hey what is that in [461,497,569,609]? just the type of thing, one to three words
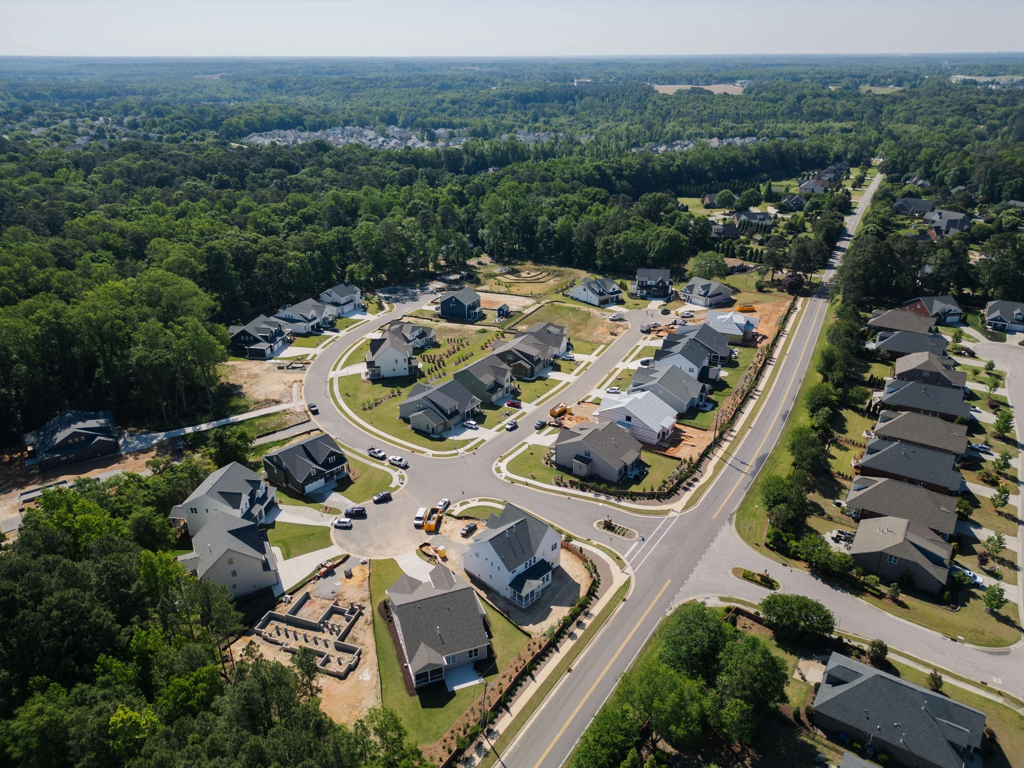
house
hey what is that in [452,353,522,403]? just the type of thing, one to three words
building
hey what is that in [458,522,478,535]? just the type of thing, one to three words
vehicle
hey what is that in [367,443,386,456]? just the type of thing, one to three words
vehicle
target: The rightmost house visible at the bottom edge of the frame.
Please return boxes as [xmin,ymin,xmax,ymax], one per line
[824,649,1003,768]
